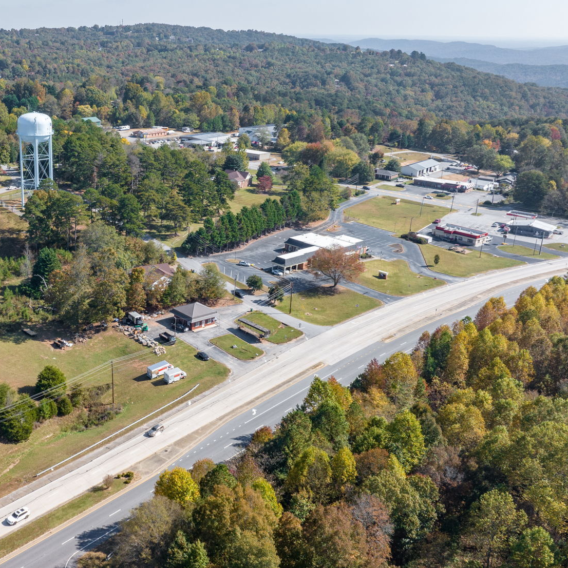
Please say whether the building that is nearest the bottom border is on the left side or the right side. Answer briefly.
left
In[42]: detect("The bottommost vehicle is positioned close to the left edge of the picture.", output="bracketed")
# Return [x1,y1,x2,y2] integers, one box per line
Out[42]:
[4,502,32,523]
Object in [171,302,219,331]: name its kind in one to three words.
building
